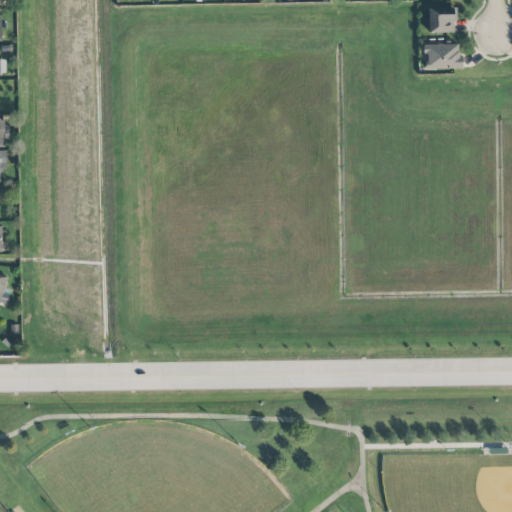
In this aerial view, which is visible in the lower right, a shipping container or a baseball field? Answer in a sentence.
What appears in the lower right is a baseball field.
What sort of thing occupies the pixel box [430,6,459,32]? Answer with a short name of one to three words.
house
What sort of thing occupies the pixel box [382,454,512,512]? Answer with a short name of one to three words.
baseball field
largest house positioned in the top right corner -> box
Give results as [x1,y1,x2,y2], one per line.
[424,44,464,69]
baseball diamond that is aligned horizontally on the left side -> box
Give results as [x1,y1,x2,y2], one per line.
[28,421,290,512]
